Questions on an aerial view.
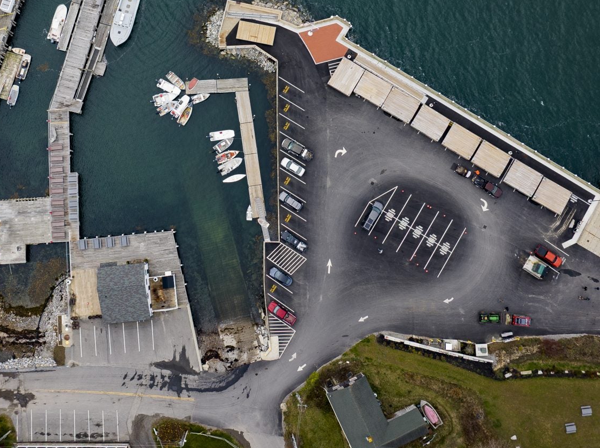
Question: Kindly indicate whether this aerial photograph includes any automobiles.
Yes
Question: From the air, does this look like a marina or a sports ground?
marina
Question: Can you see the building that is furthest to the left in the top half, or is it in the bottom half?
bottom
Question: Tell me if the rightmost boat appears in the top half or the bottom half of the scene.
bottom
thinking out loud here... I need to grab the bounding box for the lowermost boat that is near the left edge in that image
[6,84,19,109]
